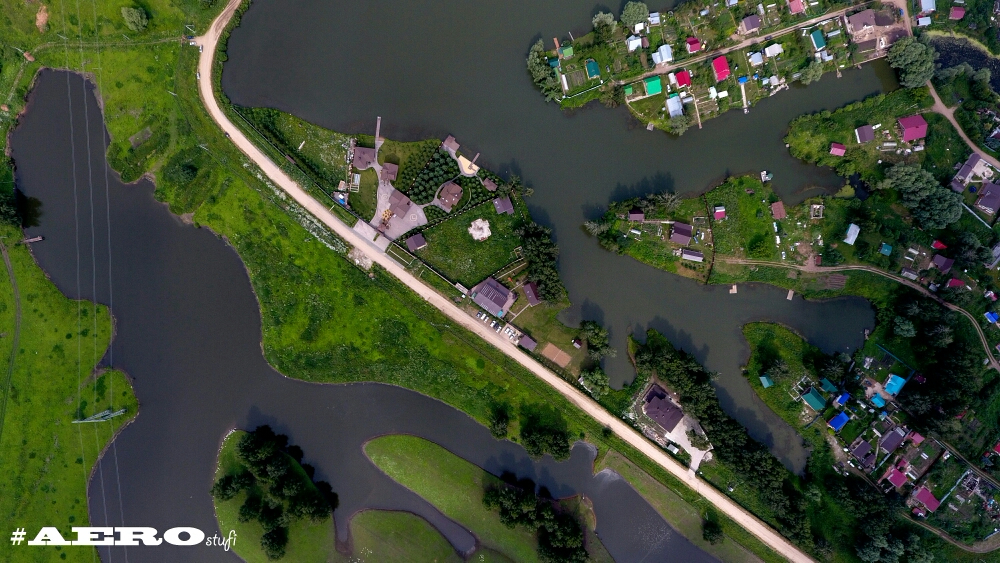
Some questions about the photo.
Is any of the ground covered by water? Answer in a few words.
Yes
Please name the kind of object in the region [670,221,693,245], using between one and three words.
house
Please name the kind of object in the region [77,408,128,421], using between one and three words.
pylon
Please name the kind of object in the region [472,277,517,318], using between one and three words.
building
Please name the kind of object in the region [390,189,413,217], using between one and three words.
house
